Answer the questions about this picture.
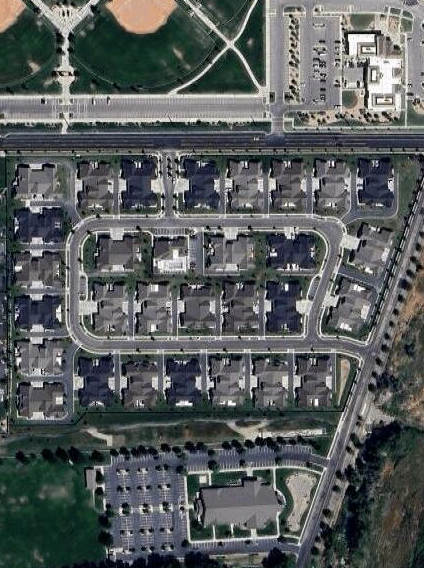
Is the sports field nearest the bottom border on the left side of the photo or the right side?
left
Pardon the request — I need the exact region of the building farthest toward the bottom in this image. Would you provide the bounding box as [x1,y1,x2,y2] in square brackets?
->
[195,479,284,532]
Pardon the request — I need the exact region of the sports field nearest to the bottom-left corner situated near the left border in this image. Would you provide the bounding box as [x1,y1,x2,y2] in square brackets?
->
[0,454,111,568]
